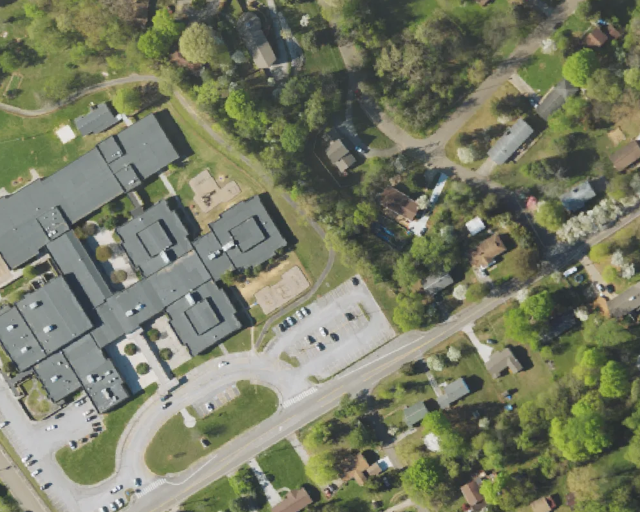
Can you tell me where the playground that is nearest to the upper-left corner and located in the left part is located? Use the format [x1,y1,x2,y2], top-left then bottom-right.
[189,169,242,212]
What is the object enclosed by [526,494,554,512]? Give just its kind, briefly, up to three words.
house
